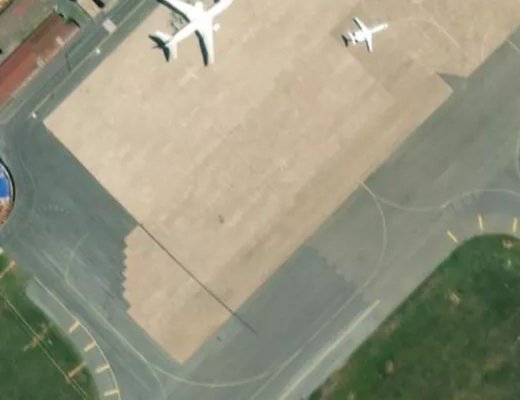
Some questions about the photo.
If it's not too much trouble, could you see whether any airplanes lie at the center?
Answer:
No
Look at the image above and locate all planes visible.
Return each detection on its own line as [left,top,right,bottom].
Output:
[155,0,233,64]
[347,16,388,52]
